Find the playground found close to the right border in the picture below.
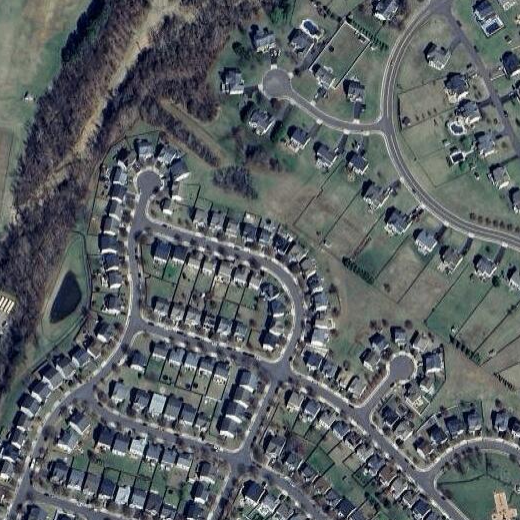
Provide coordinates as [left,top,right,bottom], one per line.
[493,493,517,520]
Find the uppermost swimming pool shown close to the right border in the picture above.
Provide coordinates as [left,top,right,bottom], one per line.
[482,18,501,35]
